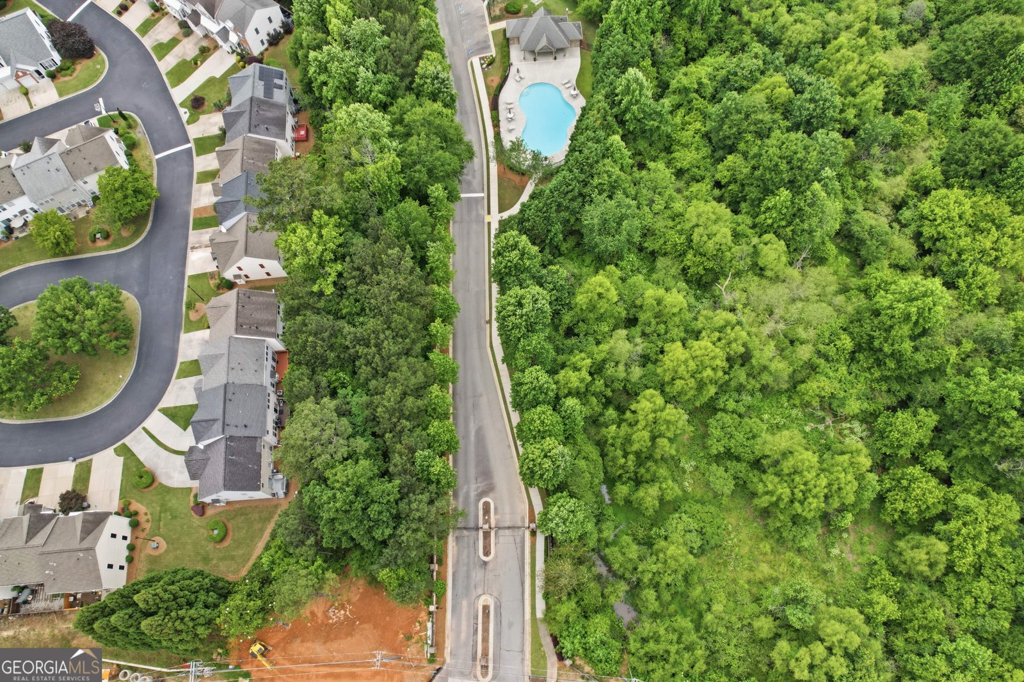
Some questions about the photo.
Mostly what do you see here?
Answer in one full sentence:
The bulk of the photo consists of trees.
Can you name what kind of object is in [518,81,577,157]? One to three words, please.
swimming pool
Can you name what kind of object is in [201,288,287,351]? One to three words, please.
house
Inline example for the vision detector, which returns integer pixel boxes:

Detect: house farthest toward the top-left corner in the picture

[0,6,61,98]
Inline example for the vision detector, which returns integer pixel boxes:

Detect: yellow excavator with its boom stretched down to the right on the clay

[253,638,277,673]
